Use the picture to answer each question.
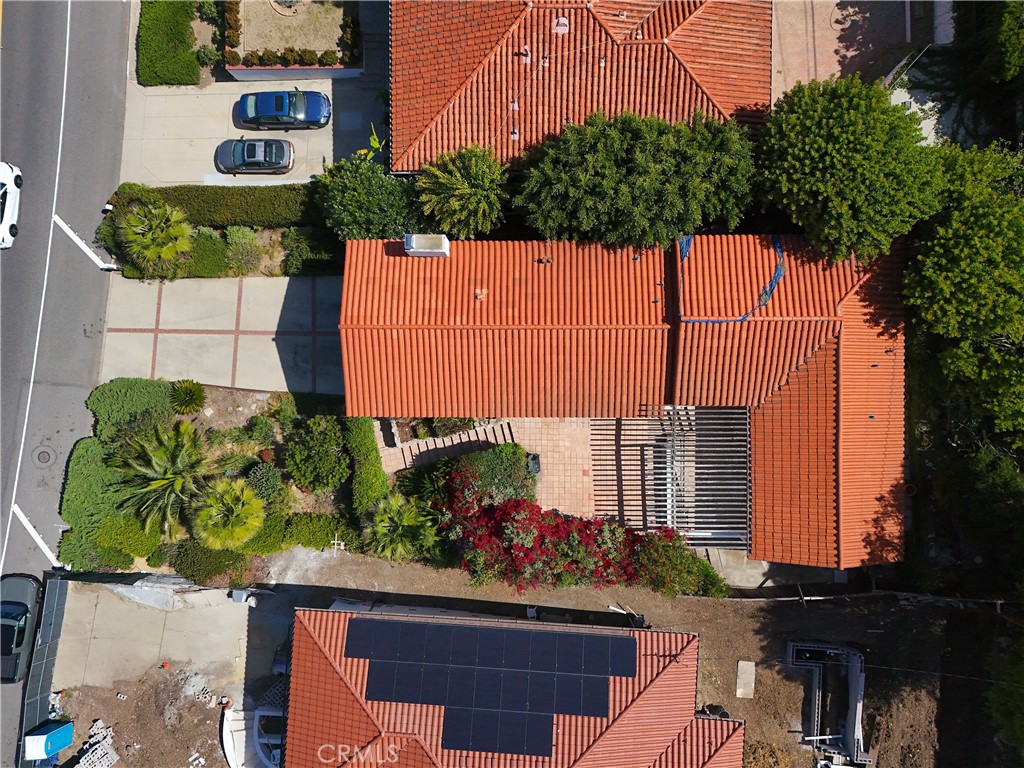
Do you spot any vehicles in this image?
Yes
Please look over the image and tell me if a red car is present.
No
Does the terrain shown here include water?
No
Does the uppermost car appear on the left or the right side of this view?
left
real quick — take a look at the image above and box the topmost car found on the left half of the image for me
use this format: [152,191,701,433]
[238,87,333,134]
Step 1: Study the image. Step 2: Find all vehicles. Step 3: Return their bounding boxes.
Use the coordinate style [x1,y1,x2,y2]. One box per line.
[238,87,333,134]
[0,567,52,684]
[0,161,24,249]
[216,133,296,178]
